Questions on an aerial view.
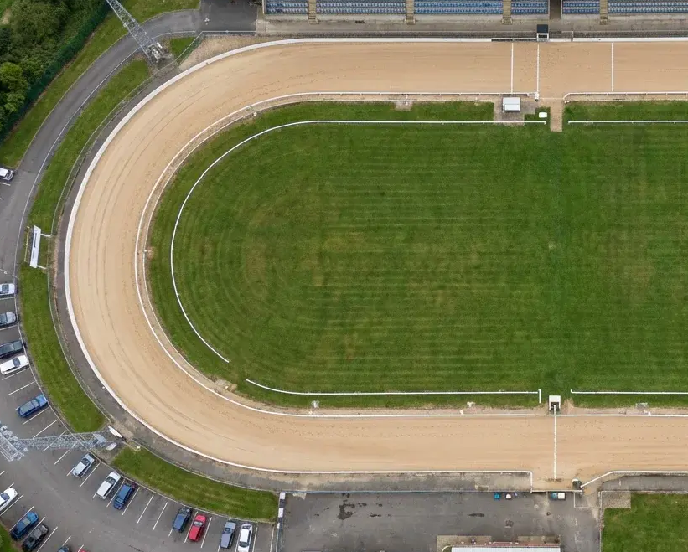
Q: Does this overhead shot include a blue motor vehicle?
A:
Yes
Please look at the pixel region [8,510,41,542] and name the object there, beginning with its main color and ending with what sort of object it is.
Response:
blue car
